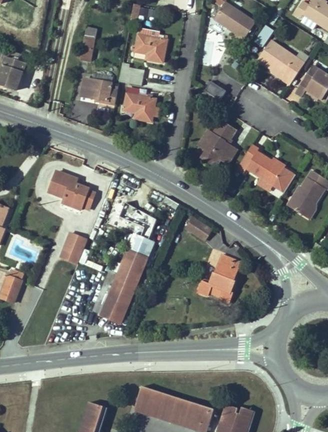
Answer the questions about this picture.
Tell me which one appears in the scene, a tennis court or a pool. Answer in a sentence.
This aerial view contains a pool.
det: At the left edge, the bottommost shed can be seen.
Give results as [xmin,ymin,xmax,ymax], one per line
[0,270,24,303]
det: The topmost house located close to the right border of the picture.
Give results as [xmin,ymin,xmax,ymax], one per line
[298,0,328,32]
